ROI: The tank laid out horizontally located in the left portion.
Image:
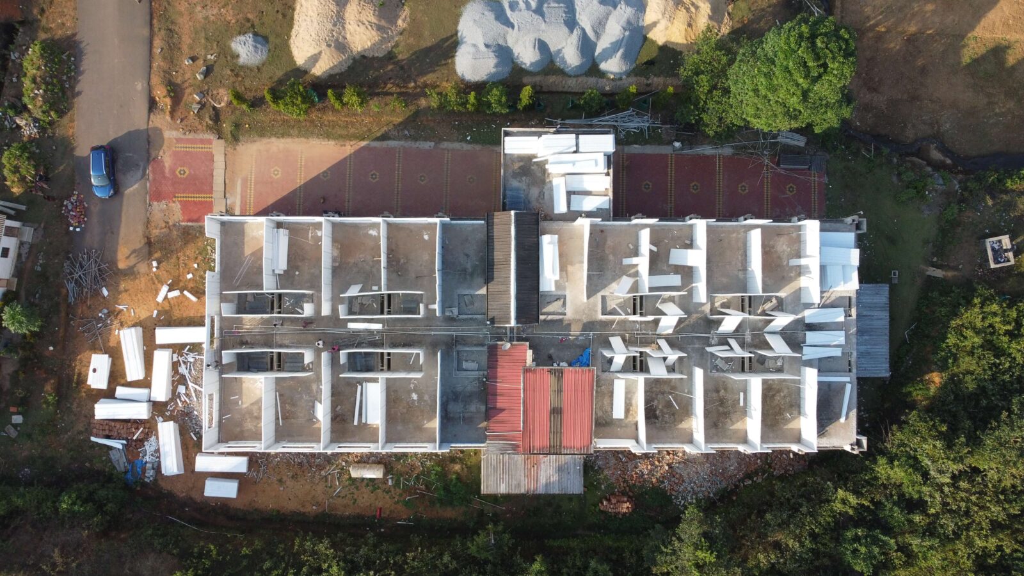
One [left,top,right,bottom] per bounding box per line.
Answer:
[351,463,384,479]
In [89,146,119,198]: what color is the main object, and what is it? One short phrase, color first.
blue car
